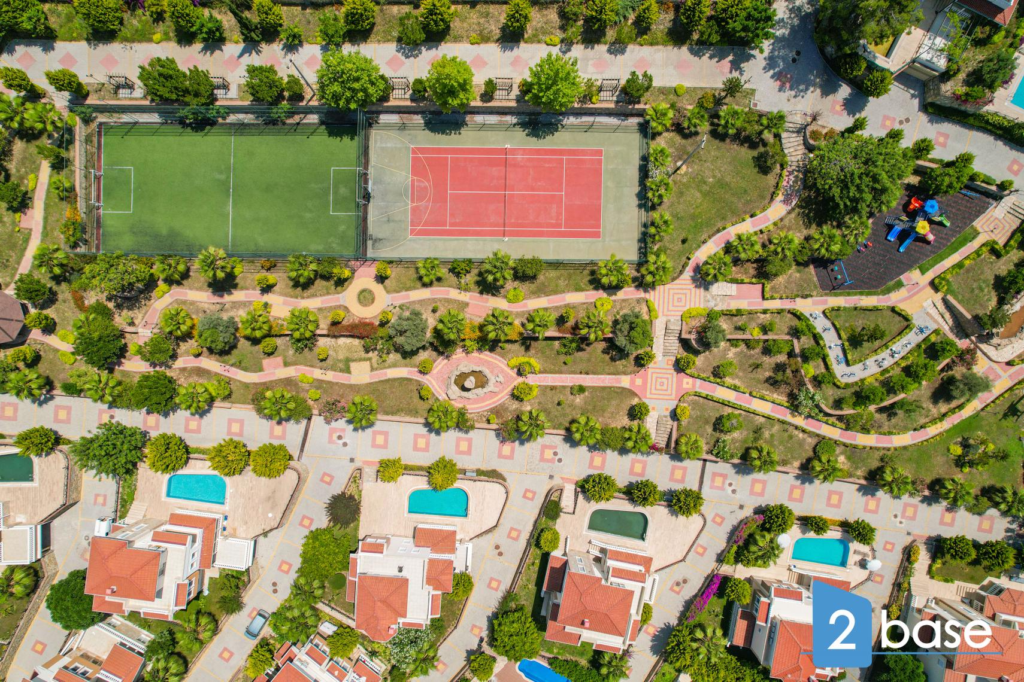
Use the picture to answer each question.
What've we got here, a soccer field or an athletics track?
soccer field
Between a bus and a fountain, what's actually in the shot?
fountain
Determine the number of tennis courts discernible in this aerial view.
1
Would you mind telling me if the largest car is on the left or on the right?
left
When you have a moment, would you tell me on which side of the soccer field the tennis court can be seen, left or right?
to its right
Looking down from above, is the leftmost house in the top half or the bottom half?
bottom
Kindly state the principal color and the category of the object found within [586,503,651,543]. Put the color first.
green swimming pool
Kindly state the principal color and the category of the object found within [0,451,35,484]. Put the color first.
green swimming pool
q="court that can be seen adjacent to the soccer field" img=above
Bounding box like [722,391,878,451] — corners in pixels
[366,121,639,262]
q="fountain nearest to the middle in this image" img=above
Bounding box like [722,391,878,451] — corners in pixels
[446,362,498,399]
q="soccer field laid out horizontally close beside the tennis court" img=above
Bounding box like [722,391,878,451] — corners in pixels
[95,122,368,257]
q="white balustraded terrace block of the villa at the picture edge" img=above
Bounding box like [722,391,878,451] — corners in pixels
[0,502,57,567]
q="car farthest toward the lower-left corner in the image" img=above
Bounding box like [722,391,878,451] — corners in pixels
[246,607,271,641]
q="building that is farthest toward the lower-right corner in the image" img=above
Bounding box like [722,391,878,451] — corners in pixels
[897,579,1024,682]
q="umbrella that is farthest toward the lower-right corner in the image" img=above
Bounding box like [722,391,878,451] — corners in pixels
[862,556,881,573]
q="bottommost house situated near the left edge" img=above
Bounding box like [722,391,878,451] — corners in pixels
[21,613,167,682]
